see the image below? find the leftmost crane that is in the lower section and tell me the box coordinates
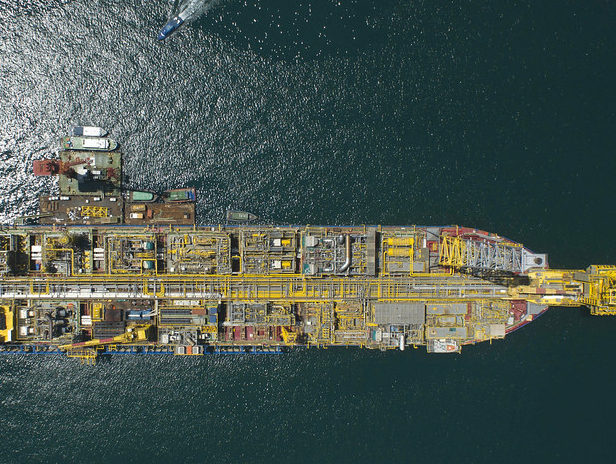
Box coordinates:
[58,323,148,348]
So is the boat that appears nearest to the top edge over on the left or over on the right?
left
